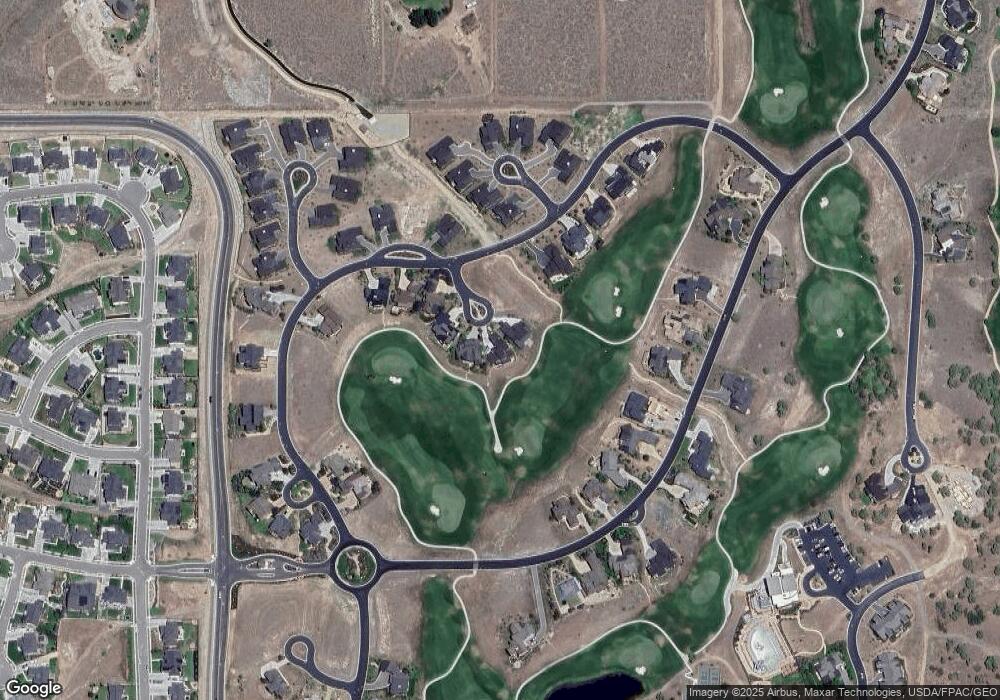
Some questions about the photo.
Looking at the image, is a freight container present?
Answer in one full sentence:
No, no freight container is visible in the view.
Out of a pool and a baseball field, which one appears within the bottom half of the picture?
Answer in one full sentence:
The feature located within the bottom half of the picture is a pool.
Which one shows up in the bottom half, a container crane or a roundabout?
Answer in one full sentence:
The one visible in the bottom half is a roundabout.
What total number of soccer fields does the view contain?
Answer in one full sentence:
There are no soccer fields in the image.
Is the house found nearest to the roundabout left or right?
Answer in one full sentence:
You can find the house found nearest to the roundabout on the left side of the picture.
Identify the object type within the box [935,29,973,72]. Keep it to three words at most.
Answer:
house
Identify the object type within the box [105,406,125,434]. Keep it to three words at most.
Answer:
house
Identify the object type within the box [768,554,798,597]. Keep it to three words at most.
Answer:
building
